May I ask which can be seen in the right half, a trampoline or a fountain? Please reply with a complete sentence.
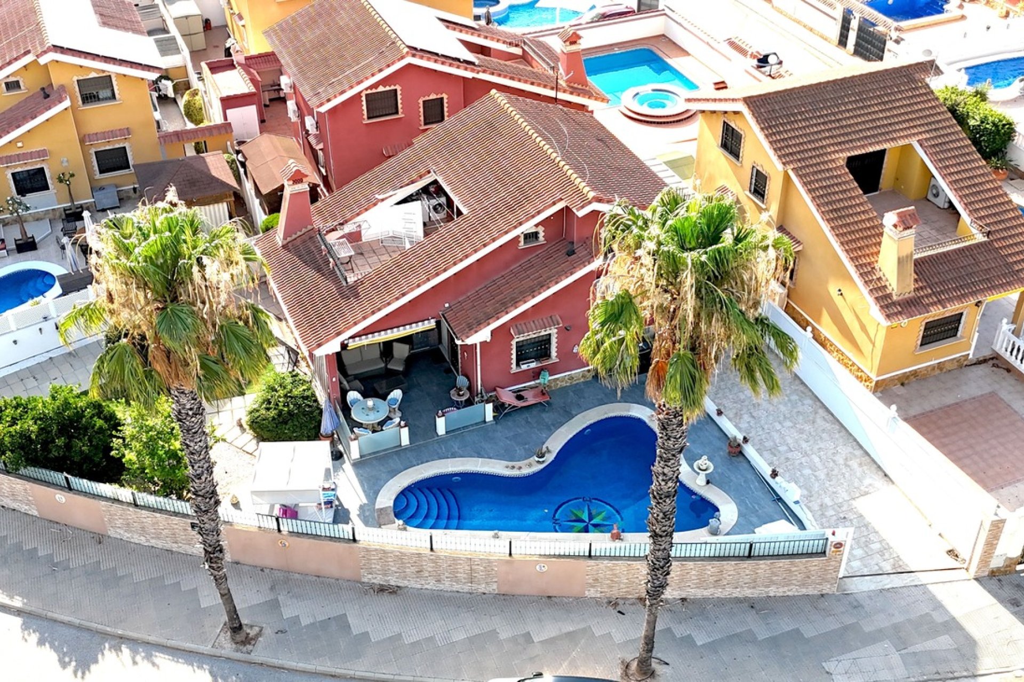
The feature located in the right half is a fountain.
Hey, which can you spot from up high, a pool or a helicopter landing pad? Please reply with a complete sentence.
The one in the frame is a pool.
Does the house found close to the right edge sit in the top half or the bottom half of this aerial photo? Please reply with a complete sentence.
It is in the top half that the house found close to the right edge appears.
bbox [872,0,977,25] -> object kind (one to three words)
swimming pool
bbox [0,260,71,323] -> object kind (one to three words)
swimming pool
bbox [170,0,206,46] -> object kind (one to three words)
shed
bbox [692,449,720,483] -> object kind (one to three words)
fountain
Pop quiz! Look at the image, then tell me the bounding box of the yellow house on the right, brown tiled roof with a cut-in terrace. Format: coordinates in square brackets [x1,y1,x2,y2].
[675,39,1024,393]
